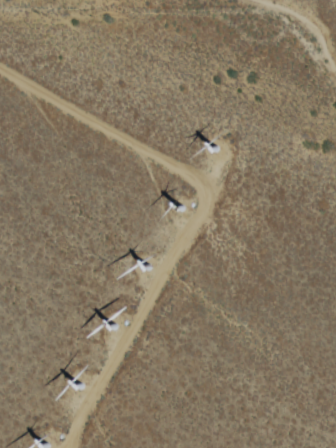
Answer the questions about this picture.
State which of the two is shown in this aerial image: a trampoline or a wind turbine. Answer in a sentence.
I can see a wind turbine in this picture.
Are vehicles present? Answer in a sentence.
No, there isn't any vehicle down there.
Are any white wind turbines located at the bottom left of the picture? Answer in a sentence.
Yes, a white wind turbine shows up at the bottom left of the picture.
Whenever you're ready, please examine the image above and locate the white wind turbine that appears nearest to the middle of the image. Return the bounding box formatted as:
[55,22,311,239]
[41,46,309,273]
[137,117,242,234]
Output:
[156,191,188,222]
